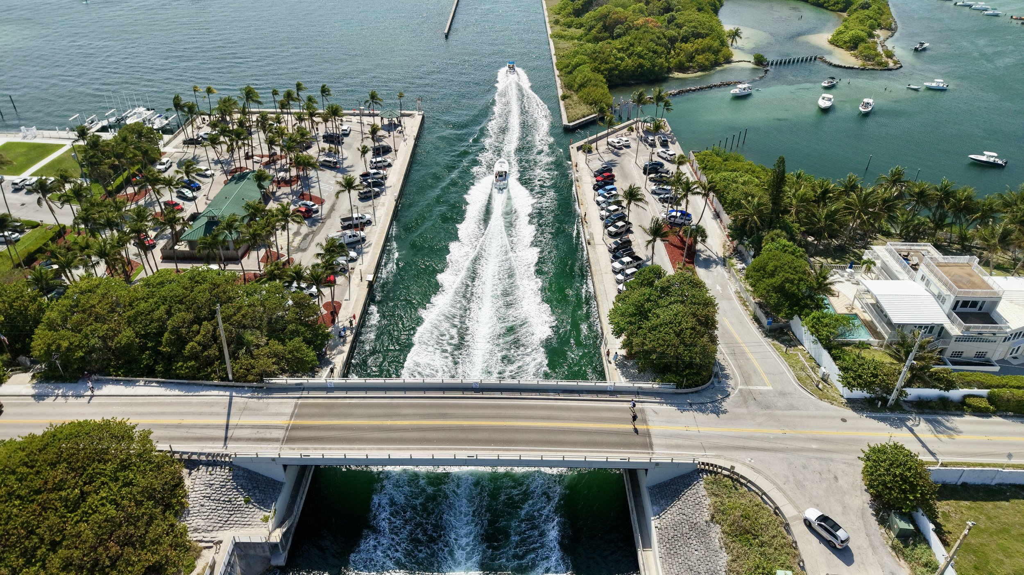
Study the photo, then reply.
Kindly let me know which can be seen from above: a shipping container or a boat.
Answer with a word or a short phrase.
boat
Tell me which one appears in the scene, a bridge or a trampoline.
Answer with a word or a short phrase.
bridge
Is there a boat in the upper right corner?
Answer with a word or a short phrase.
Yes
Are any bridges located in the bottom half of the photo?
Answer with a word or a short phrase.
Yes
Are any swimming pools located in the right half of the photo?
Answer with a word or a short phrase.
Yes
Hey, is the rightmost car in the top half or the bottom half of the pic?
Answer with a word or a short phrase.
bottom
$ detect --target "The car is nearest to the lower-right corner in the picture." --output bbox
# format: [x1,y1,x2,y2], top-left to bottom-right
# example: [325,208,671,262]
[800,505,860,553]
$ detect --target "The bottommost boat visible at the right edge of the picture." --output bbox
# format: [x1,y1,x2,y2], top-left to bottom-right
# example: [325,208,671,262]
[962,142,1019,171]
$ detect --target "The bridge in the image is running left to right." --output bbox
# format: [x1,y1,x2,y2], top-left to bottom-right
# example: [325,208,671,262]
[234,377,697,496]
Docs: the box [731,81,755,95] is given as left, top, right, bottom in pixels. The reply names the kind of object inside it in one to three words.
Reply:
boat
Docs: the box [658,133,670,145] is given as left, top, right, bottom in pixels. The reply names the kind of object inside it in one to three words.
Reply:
vehicle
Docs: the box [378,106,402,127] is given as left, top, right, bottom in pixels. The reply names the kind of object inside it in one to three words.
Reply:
gazebo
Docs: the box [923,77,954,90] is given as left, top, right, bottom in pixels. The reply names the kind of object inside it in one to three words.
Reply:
boat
